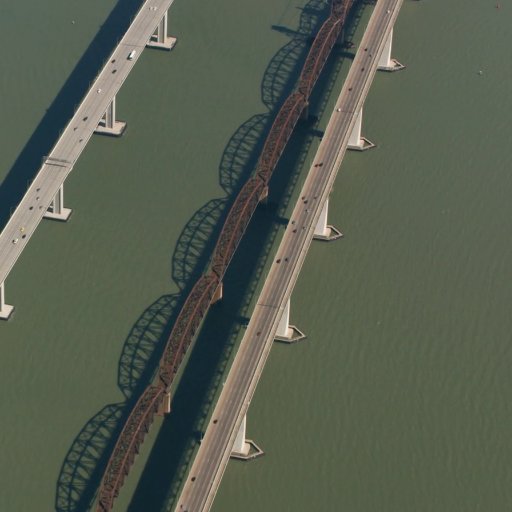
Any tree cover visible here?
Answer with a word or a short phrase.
No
